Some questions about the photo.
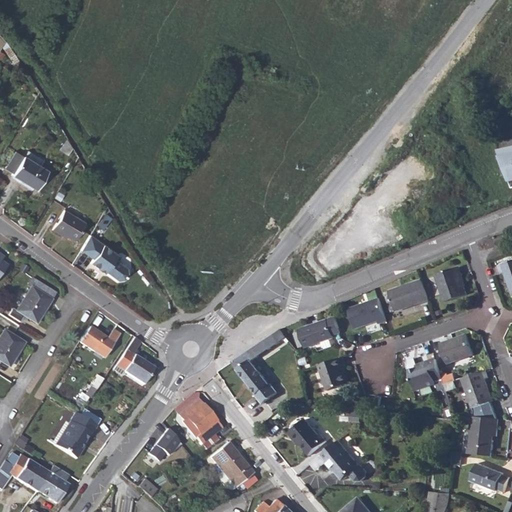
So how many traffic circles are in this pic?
one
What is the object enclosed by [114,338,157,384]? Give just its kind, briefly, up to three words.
house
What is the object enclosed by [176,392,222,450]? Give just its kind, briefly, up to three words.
building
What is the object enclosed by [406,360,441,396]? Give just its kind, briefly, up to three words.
house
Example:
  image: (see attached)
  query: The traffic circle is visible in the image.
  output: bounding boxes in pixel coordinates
[166,322,219,384]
